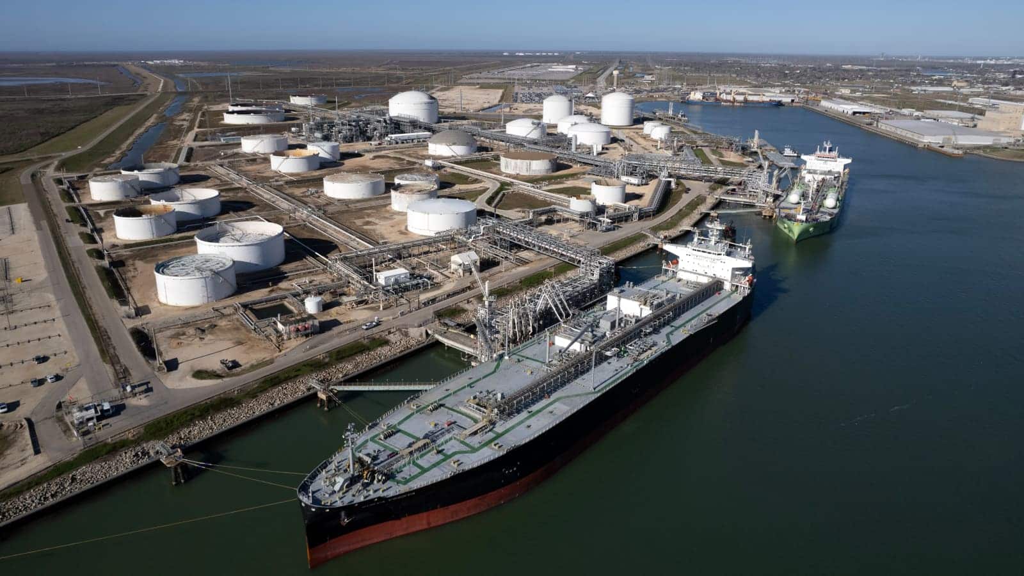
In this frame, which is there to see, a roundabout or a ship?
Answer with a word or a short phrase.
ship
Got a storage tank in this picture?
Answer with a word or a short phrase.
Yes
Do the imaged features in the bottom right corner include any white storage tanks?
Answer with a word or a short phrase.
No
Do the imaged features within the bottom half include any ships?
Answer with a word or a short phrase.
Yes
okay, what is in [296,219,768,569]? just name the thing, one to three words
ship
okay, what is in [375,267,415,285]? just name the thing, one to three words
building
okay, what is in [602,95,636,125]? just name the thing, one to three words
storage tank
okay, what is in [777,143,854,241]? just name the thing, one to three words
ship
